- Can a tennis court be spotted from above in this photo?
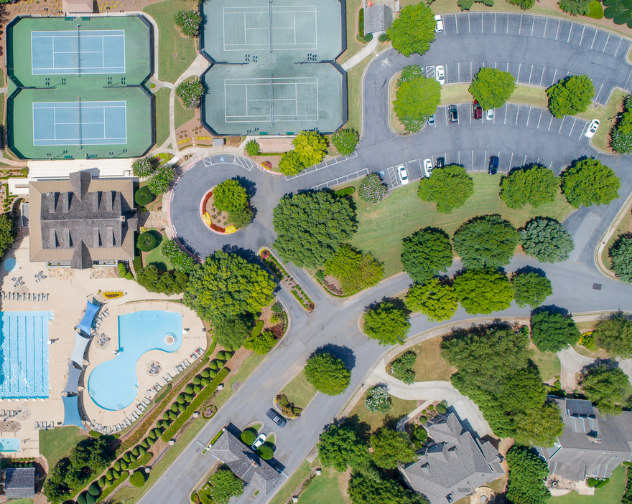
Yes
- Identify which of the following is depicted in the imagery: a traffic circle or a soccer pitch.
traffic circle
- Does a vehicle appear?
Yes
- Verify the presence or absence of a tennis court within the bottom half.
No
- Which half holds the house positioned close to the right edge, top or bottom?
bottom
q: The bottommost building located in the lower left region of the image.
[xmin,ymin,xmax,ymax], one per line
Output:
[0,465,36,499]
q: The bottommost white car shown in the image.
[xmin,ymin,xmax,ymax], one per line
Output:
[250,432,267,450]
